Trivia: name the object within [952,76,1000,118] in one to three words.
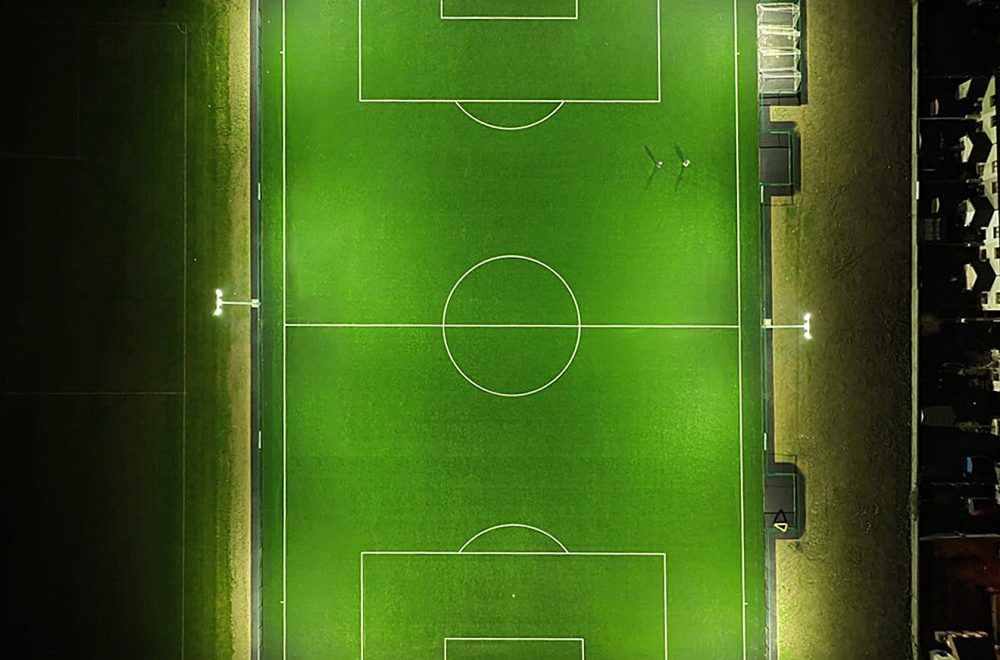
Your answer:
house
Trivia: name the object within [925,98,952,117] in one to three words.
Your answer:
shed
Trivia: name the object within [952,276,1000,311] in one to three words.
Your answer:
house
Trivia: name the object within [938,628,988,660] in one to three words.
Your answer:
shed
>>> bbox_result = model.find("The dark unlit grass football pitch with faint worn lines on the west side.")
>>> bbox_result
[0,22,184,660]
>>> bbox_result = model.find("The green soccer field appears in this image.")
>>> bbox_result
[261,0,768,660]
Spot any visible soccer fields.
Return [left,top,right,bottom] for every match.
[0,22,184,660]
[261,0,768,660]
